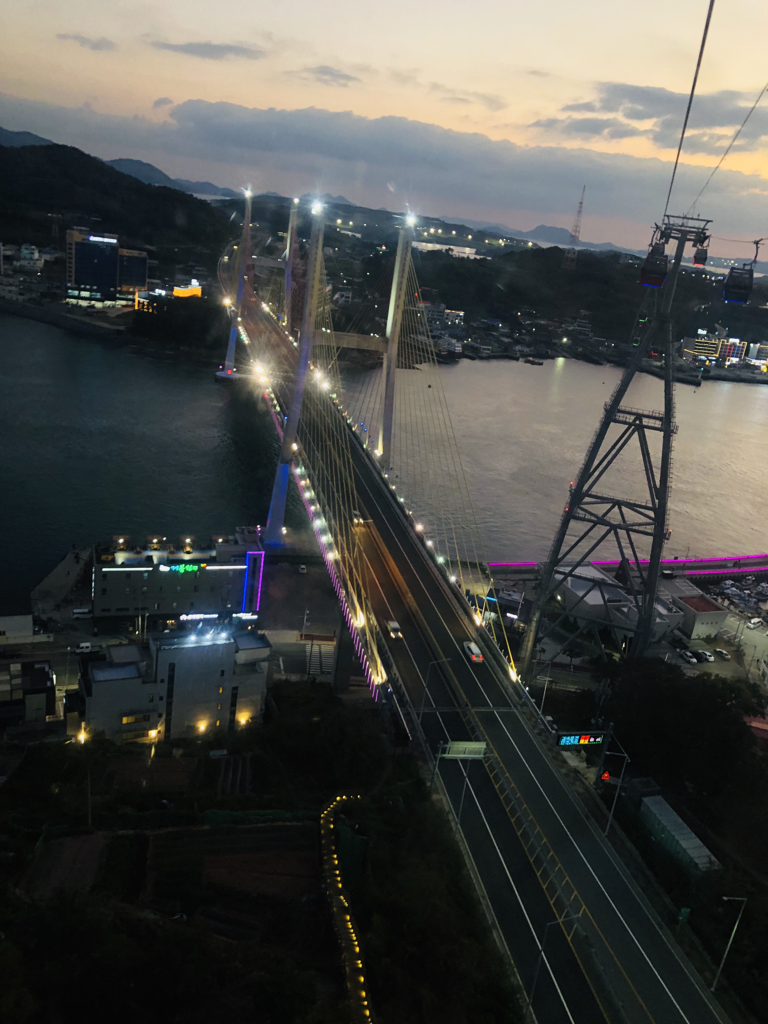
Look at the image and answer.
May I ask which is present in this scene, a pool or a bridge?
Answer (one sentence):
Of the two, only a bridge appears.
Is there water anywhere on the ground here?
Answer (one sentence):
Yes, water can be seen from above here.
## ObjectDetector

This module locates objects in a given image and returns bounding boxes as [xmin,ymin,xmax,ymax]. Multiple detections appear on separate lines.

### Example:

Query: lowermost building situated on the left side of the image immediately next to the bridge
[76,616,278,741]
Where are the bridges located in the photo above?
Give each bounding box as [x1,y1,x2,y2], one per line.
[217,193,538,721]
